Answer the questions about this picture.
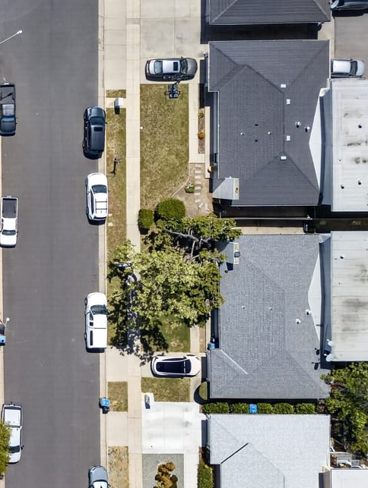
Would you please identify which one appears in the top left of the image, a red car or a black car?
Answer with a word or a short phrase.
black car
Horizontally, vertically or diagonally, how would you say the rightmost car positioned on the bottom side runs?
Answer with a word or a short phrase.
horizontally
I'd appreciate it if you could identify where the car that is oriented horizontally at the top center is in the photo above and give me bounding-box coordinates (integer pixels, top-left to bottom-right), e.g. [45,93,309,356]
[142,57,196,81]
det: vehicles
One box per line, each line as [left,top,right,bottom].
[84,173,109,221]
[0,195,19,247]
[331,0,367,12]
[148,355,199,380]
[0,82,19,135]
[82,107,107,157]
[0,401,25,462]
[142,57,196,81]
[83,292,107,350]
[330,56,363,78]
